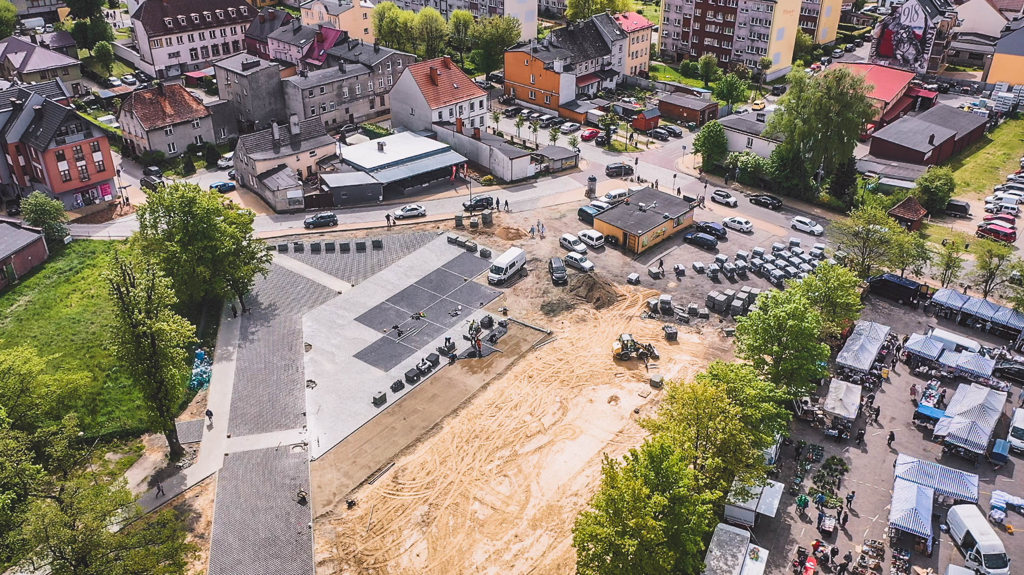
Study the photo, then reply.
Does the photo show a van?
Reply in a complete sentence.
Yes, the image includes a van.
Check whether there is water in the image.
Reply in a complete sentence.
No, there's no water in this view.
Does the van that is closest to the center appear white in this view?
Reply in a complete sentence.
Yes, the van that is closest to the center is white.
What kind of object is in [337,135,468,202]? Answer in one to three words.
building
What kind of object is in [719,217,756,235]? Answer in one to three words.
car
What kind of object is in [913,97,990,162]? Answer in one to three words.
shed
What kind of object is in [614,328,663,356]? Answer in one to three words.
work vehicle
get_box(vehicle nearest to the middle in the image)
[489,243,524,282]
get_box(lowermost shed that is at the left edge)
[0,214,49,282]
